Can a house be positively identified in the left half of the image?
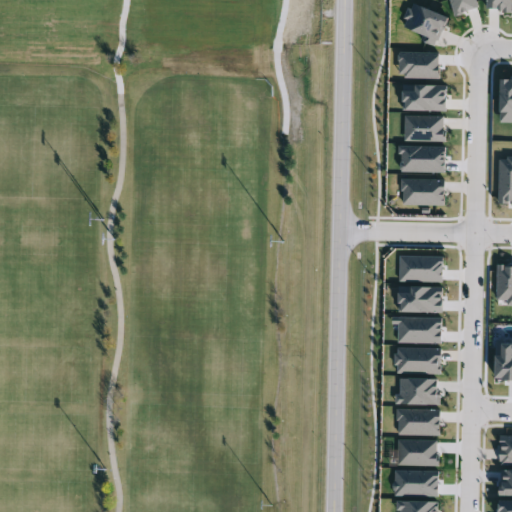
No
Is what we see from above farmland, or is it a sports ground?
sports ground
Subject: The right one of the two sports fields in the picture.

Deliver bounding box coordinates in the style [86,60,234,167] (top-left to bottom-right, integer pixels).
[127,75,268,512]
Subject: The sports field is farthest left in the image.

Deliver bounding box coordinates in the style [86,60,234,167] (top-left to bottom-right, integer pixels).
[0,76,103,512]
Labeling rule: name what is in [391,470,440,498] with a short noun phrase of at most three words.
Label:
house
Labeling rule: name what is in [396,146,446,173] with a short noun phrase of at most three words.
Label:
house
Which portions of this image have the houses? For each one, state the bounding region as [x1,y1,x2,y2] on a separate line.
[496,264,512,304]
[400,178,445,206]
[396,146,446,173]
[398,440,440,467]
[403,4,447,47]
[498,436,512,463]
[396,378,441,406]
[396,408,440,437]
[398,316,442,344]
[398,286,443,313]
[398,52,441,80]
[494,342,512,382]
[394,347,442,375]
[402,84,447,112]
[400,254,444,282]
[497,468,512,497]
[452,0,482,22]
[404,115,446,142]
[499,78,512,123]
[498,157,512,205]
[487,0,512,14]
[497,500,512,512]
[391,470,440,498]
